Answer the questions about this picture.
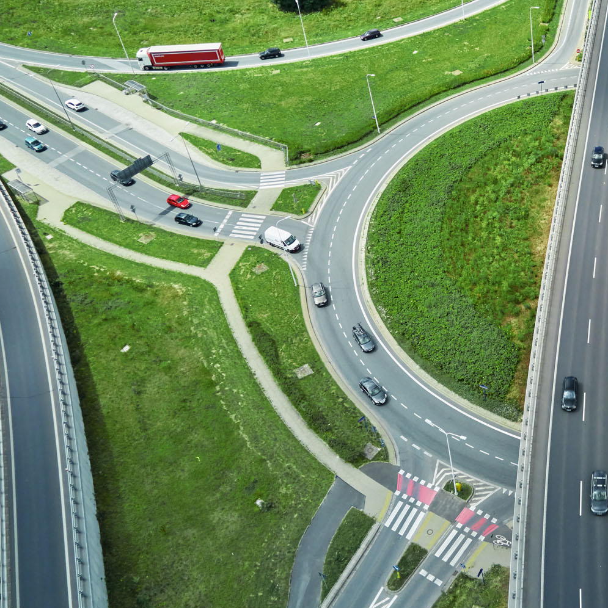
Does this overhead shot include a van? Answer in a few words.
Yes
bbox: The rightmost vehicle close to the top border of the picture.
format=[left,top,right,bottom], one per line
[360,26,381,39]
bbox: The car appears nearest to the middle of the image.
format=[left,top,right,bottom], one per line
[310,279,327,306]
